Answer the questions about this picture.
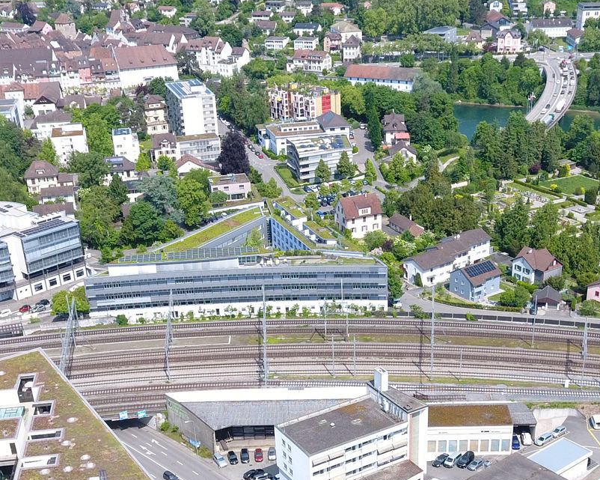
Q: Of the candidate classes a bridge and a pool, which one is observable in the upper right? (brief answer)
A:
bridge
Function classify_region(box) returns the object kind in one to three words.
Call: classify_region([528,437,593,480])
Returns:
shed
